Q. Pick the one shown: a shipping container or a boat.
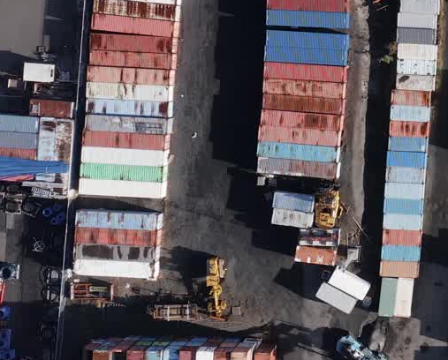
shipping container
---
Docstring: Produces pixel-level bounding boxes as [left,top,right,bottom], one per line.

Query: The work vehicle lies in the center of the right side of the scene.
[316,181,340,229]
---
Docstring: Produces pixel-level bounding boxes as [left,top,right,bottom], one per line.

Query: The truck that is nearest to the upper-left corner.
[24,52,63,82]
